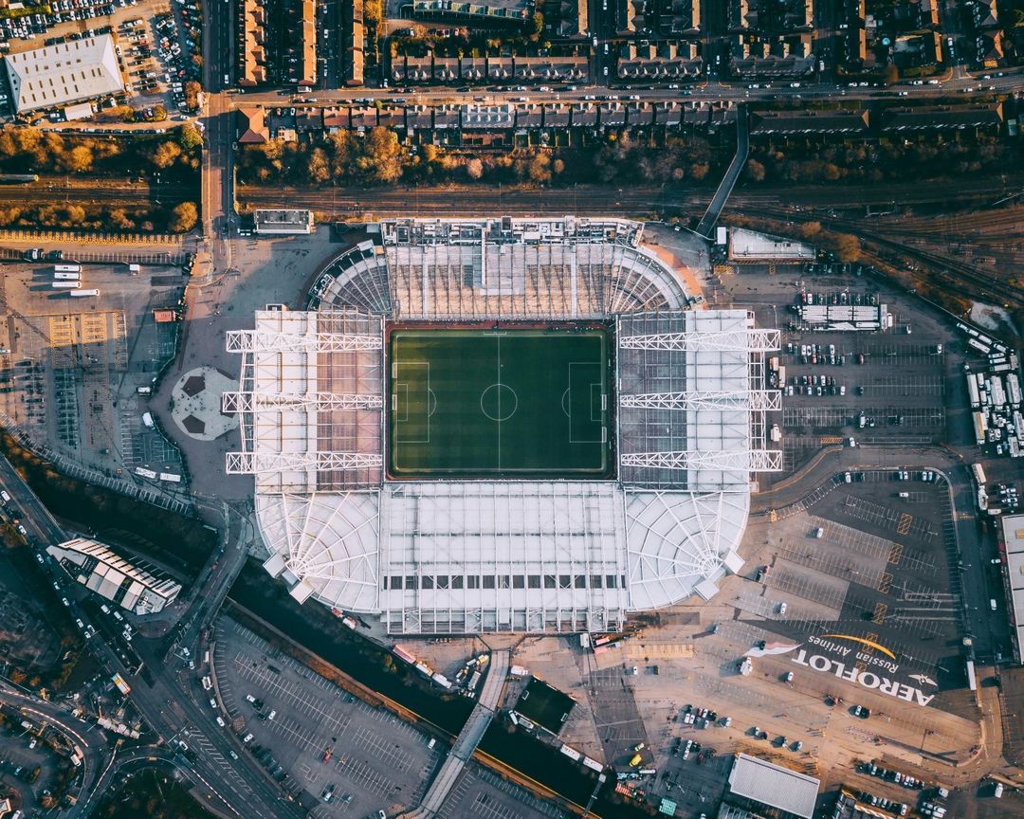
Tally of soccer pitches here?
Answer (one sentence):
Looking from above, you can make out 2 soccer pitches.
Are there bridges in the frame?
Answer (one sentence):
Yes, the photo shows a bridge.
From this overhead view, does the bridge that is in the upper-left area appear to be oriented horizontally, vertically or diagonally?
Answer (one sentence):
The bridge that is in the upper-left area runs vertically in the image.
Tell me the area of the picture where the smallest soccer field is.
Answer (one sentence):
Look in the bottom portion of the view to spot the smallest soccer field.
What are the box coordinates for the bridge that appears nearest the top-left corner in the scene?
[201,124,237,231]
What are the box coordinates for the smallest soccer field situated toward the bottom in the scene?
[514,676,577,735]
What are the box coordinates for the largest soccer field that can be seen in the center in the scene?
[387,320,616,475]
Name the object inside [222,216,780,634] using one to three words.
stadium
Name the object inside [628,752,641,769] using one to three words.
vehicle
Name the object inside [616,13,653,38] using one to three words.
house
